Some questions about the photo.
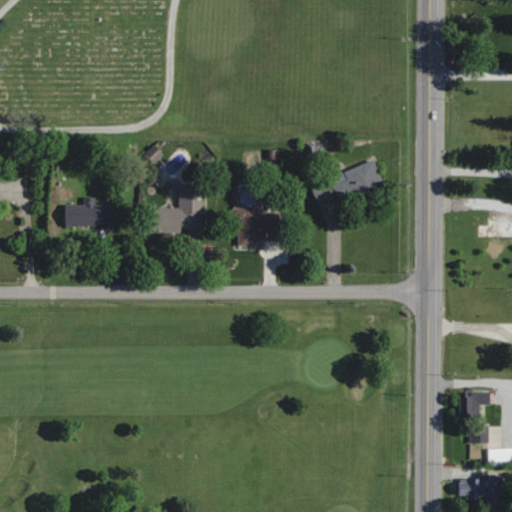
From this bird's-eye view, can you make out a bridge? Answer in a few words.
No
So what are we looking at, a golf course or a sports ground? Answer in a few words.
golf course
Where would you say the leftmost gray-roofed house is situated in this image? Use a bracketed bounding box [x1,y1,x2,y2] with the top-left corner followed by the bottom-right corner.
[64,198,96,228]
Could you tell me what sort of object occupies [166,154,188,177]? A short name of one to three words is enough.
swimming pool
